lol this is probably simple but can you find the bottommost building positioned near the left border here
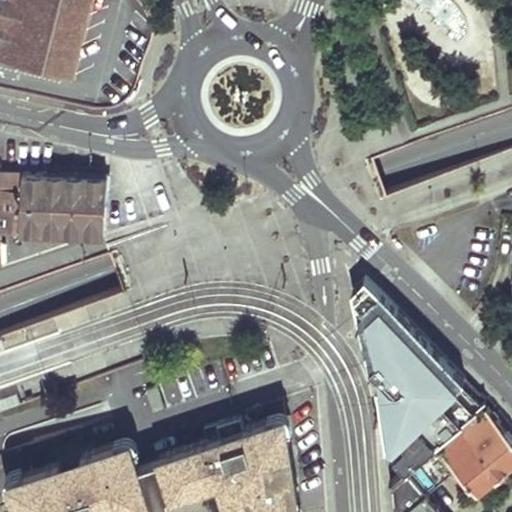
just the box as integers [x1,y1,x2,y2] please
[3,435,148,512]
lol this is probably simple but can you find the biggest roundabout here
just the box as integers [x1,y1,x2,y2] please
[180,33,304,157]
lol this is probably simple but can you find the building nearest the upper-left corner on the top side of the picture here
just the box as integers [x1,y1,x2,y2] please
[0,0,94,82]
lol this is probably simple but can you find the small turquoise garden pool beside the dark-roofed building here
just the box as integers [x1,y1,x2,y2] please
[414,464,436,491]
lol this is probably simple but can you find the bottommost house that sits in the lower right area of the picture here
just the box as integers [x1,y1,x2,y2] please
[392,474,422,512]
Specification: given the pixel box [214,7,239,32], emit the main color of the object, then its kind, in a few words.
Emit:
white vehicle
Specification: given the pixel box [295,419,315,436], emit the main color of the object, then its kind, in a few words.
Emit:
white car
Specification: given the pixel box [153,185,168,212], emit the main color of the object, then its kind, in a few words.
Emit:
white vehicle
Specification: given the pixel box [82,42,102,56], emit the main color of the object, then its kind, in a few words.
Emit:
white car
